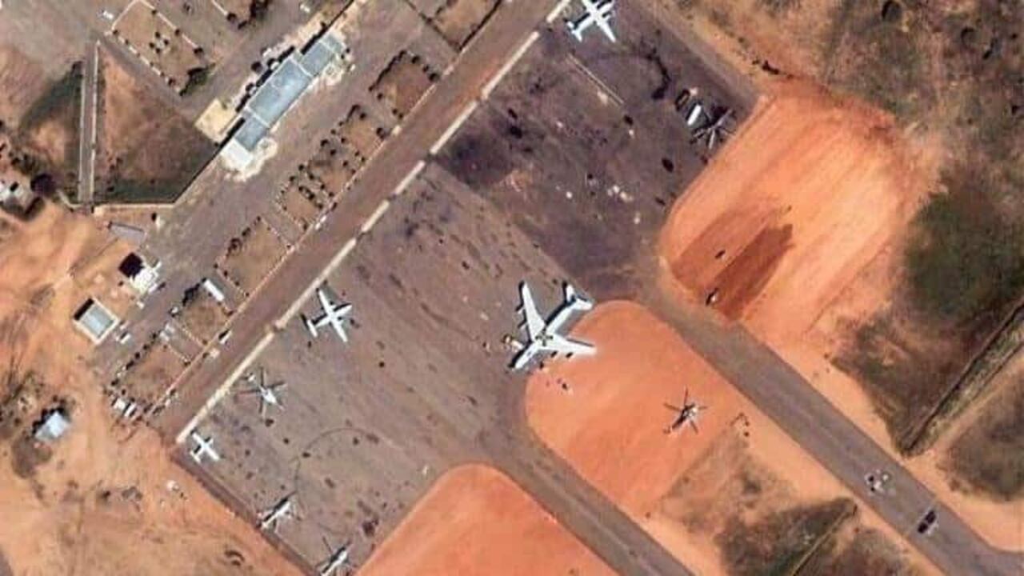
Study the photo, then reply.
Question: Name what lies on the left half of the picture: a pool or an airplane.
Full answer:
Visible on the left half of the picture is an airplane.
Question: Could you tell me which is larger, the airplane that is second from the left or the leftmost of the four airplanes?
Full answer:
The airplane that is second from the left takes up more space than the leftmost of the four airplanes does.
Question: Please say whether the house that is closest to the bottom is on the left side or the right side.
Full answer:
You can find the house that is closest to the bottom on the left side of the picture.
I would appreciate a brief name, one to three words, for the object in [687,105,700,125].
vehicle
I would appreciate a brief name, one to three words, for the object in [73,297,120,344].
building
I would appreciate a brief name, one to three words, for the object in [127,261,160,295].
building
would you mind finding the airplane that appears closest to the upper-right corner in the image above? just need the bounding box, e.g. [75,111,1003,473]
[569,0,616,42]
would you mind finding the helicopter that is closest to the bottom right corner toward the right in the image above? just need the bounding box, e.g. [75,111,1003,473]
[670,393,710,432]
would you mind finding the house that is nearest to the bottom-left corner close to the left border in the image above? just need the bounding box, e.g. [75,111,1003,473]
[35,412,70,443]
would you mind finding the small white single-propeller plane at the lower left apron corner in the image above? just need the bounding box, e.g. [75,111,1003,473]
[190,433,218,462]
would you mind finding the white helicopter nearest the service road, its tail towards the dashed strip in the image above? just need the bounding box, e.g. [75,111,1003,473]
[243,372,285,414]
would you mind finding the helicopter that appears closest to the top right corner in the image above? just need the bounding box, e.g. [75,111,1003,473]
[694,110,735,148]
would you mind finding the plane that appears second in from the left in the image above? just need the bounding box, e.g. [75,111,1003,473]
[309,291,352,341]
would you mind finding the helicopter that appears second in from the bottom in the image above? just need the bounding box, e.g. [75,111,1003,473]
[259,492,300,531]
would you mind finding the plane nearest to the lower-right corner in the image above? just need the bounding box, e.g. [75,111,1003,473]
[514,282,599,370]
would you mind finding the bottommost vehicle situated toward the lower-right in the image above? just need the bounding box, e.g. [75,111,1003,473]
[922,511,937,532]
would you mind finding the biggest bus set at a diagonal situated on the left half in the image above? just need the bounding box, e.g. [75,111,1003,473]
[203,280,223,301]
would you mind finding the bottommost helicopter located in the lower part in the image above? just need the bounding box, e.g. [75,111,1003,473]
[318,542,358,576]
